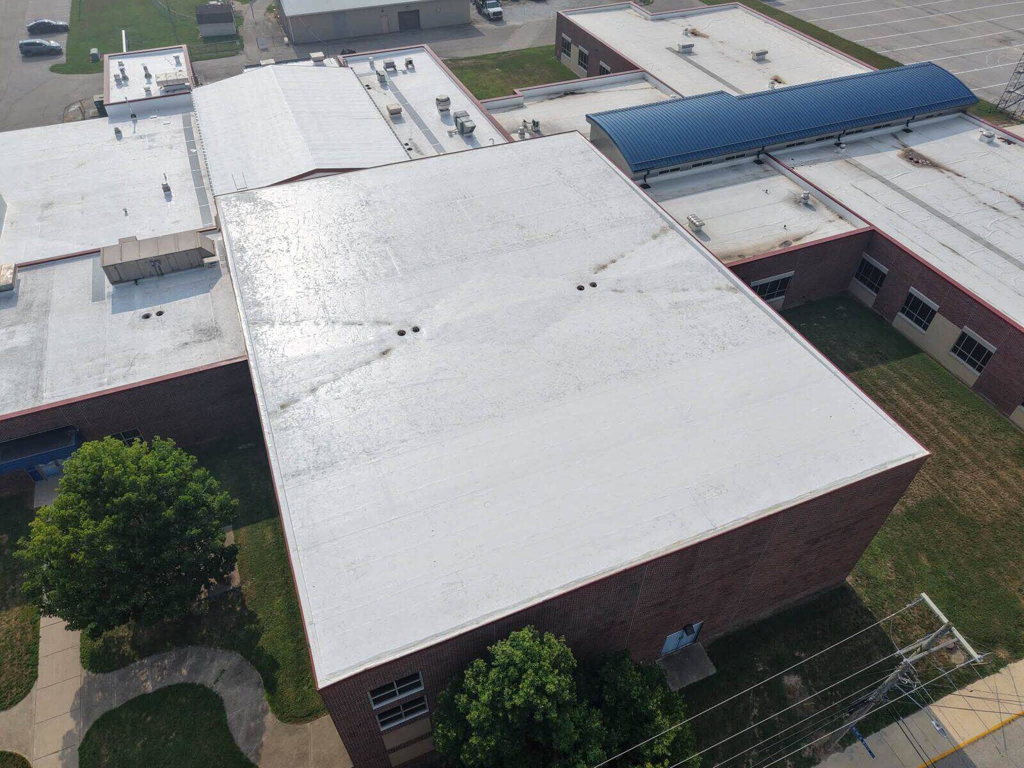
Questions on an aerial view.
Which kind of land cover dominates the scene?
buildings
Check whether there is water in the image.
No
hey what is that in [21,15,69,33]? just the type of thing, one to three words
car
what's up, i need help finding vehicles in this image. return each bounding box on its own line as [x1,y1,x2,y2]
[12,35,62,56]
[476,0,502,16]
[21,15,69,33]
